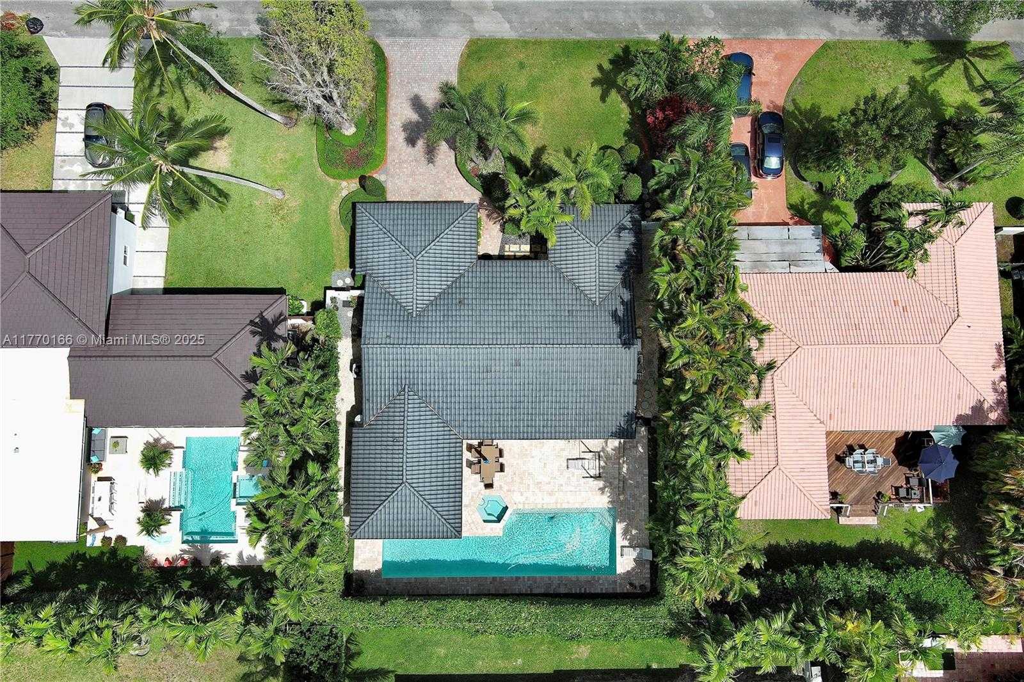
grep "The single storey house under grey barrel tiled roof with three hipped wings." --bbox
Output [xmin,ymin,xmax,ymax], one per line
[348,202,643,540]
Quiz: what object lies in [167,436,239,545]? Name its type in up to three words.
swimming pool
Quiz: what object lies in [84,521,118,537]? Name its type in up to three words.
umbrella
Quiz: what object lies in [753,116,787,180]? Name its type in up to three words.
car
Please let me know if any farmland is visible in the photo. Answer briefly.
No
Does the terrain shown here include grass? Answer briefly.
Yes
